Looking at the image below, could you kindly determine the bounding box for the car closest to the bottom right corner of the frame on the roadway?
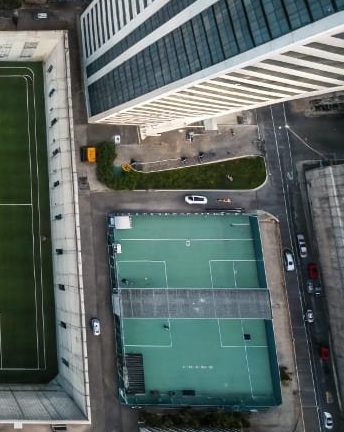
[322,411,335,430]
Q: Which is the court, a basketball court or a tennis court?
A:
tennis court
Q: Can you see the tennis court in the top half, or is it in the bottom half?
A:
bottom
